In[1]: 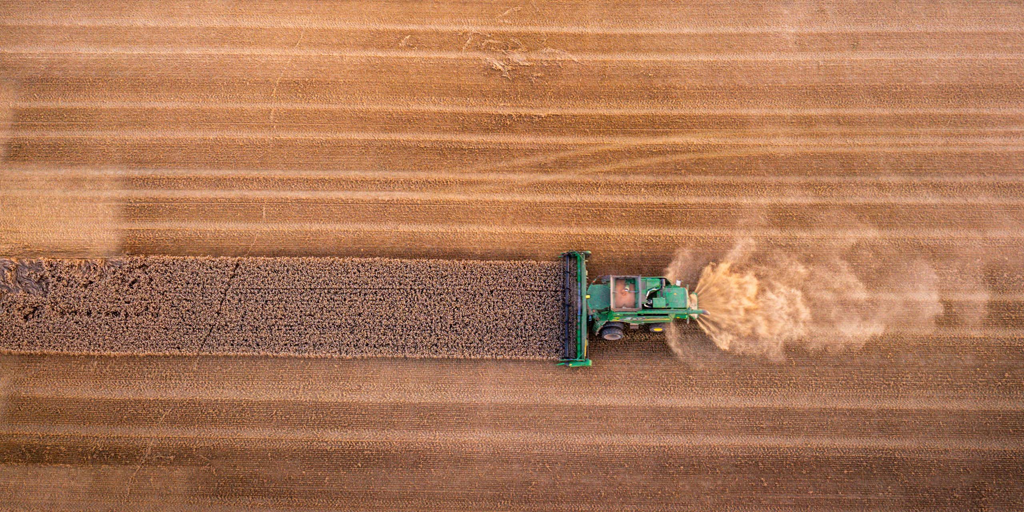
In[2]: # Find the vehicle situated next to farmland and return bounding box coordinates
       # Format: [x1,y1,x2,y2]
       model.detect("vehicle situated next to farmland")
[557,250,712,366]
